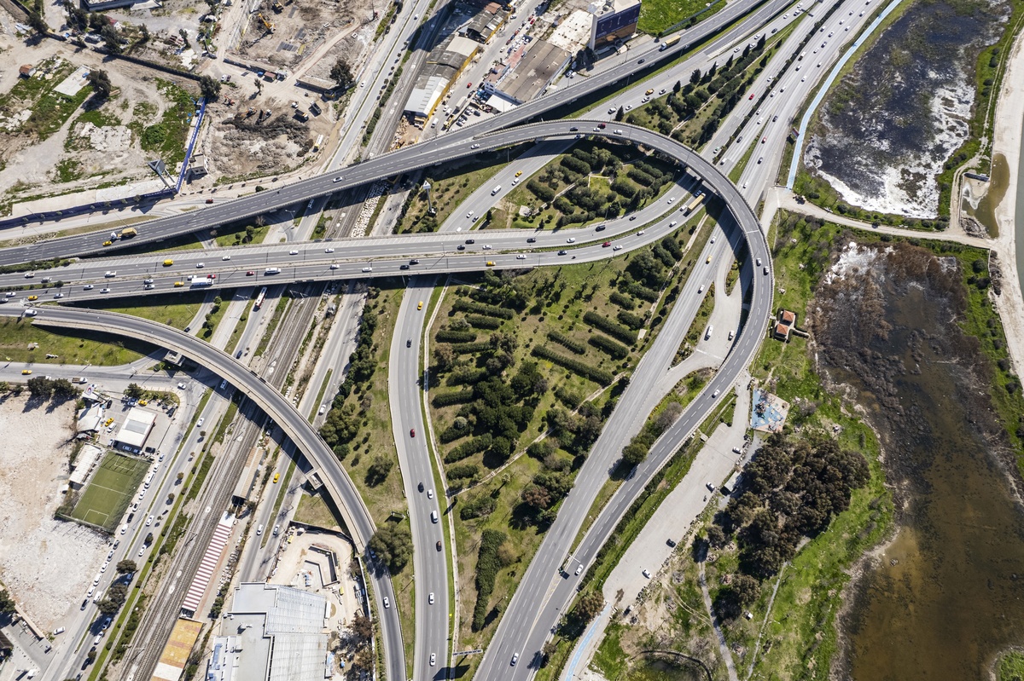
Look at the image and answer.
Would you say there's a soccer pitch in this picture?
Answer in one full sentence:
Yes, the photo shows a soccer pitch.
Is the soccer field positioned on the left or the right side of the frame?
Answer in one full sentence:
You can find the soccer field on the left side of the picture.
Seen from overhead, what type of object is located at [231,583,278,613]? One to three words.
building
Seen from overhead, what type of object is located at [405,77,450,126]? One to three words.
building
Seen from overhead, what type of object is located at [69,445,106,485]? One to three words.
shed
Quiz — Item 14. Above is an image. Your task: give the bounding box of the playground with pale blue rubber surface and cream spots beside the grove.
[752,389,789,432]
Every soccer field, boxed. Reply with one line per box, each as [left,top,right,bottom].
[66,452,148,532]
